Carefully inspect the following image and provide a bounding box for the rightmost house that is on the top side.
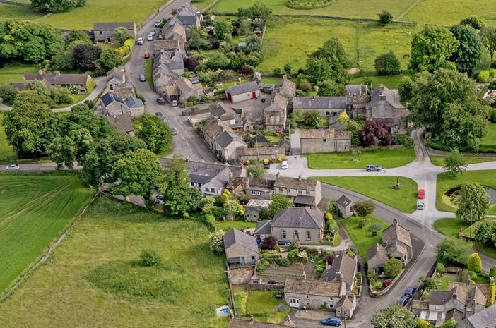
[366,81,412,137]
